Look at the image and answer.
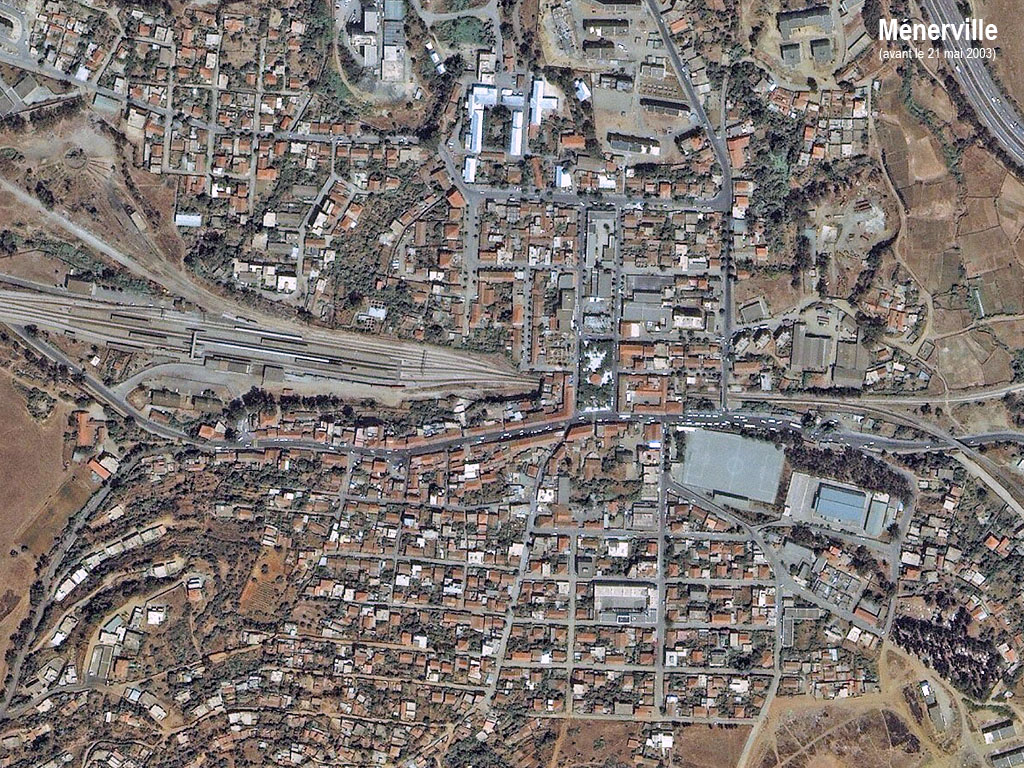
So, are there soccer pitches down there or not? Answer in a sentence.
Yes, the photo shows a soccer pitch.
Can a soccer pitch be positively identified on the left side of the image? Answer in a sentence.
No, there's no soccer pitch to be seen on the left side of the image.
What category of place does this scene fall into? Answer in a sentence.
This looks like a residential area.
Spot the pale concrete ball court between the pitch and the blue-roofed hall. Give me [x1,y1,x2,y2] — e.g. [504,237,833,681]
[786,473,814,521]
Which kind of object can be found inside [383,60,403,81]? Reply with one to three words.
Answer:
building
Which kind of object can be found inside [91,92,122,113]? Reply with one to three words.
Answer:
building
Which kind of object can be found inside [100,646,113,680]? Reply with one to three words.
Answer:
shed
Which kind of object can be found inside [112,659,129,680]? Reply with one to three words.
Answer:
house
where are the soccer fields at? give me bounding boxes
[682,429,784,504]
